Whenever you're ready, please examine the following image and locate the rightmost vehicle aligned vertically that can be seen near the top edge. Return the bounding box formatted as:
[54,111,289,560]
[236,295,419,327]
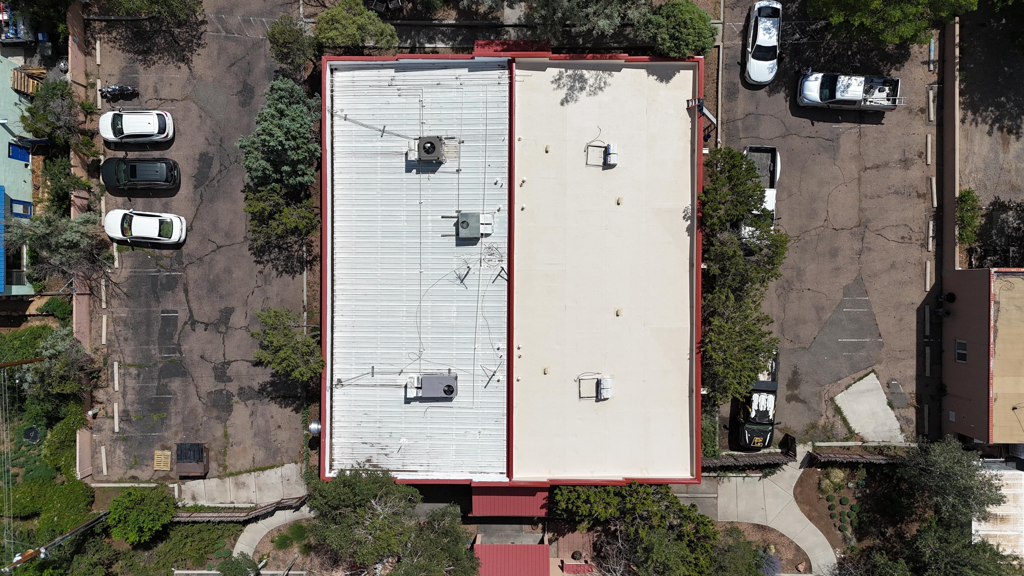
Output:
[742,4,783,86]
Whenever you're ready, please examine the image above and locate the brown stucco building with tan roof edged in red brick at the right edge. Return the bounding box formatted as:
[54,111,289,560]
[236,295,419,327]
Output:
[943,268,1024,444]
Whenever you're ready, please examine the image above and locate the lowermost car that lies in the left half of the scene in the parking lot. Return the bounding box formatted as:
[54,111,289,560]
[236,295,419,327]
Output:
[105,207,187,245]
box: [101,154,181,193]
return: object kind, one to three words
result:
car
